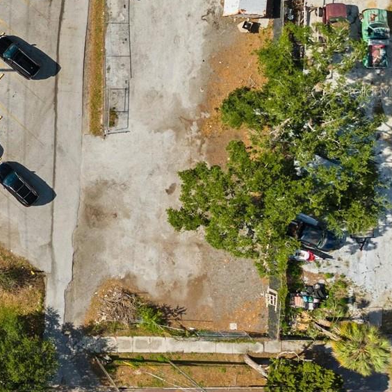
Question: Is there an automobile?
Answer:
Yes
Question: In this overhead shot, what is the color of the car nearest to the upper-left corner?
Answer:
black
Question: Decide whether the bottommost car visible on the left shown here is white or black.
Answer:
black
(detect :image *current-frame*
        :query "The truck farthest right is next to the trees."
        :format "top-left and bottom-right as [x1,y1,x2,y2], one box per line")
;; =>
[362,9,392,69]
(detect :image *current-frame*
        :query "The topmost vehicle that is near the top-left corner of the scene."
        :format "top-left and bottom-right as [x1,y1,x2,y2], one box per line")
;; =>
[0,35,45,80]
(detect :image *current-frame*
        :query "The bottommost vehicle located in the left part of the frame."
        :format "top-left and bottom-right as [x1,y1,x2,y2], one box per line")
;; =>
[0,162,42,210]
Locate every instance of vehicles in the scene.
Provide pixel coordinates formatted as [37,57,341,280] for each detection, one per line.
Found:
[295,212,352,251]
[362,9,392,69]
[0,35,45,80]
[326,0,355,50]
[0,162,42,210]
